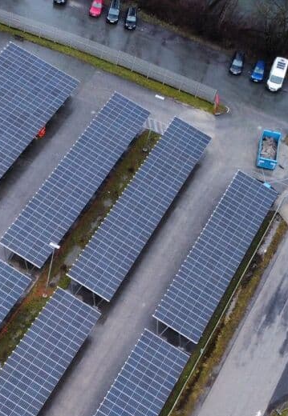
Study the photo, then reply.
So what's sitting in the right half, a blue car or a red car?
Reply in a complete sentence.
The one visible in the right half is a blue car.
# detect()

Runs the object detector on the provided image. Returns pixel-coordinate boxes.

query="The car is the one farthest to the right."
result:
[267,58,288,91]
